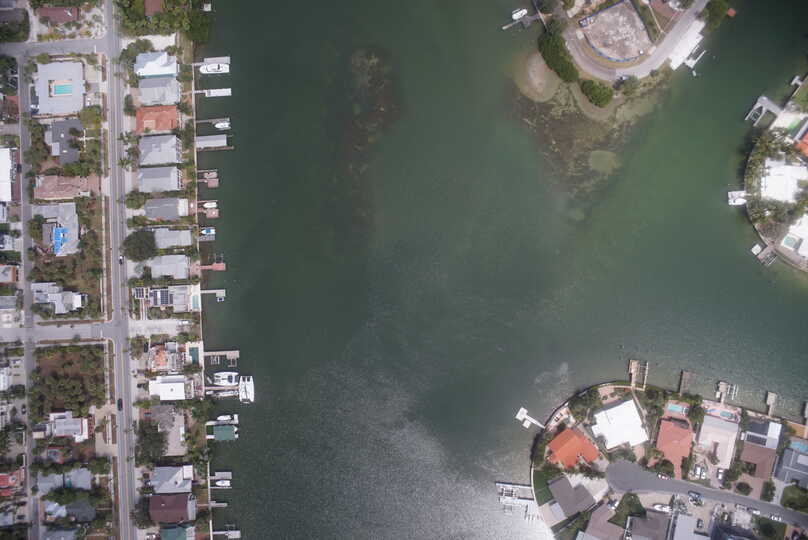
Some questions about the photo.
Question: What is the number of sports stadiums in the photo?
zero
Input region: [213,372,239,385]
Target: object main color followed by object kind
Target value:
white boat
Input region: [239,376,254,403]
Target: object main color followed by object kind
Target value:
white boat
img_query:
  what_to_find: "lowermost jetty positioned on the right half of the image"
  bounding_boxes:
[495,482,538,515]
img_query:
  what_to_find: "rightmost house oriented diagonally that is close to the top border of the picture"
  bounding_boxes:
[668,21,705,72]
